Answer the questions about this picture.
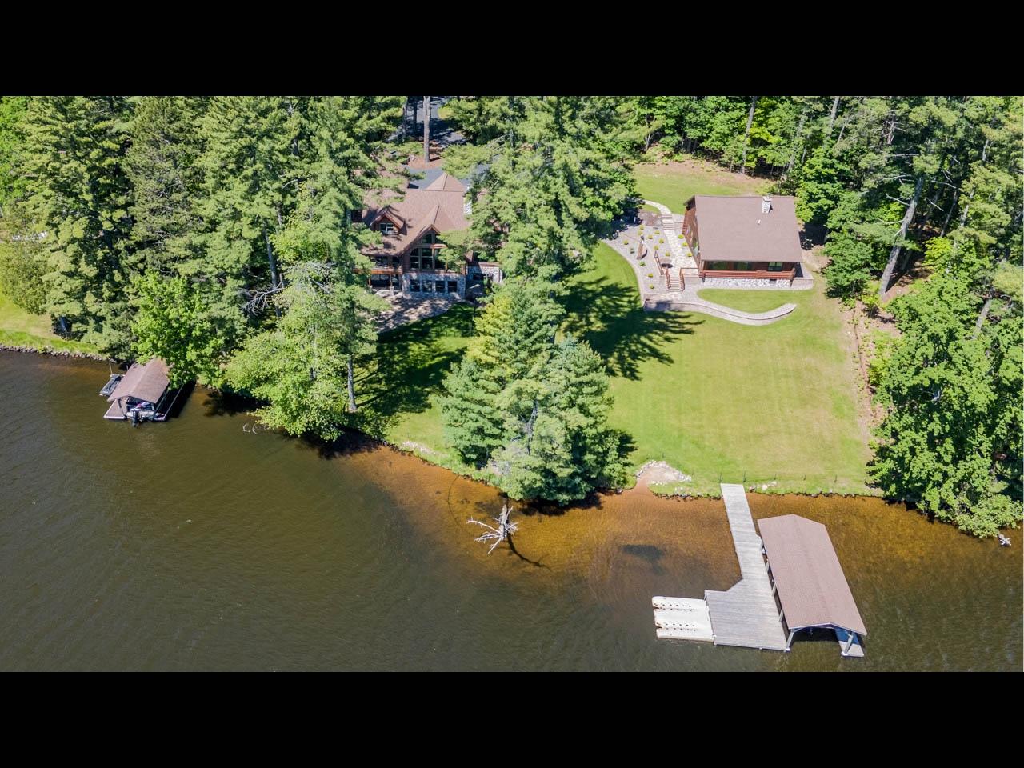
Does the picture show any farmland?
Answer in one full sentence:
No, the scene doesn't show any farmland.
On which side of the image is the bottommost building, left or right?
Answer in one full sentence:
The bottommost building sits on the right side.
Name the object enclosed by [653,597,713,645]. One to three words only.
pier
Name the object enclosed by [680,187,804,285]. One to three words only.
building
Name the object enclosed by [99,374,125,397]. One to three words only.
boat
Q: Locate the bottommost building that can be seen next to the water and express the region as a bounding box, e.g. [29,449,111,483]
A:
[755,510,867,663]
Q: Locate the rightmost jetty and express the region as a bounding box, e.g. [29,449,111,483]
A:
[703,483,788,656]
